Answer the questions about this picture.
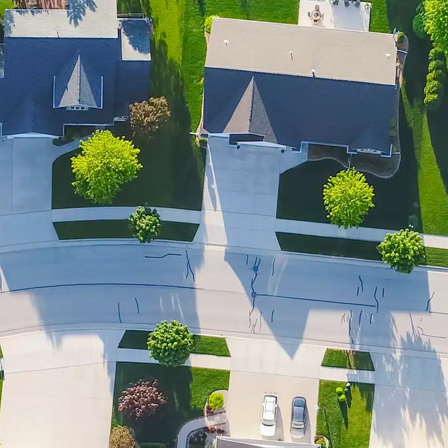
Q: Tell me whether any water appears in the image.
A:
No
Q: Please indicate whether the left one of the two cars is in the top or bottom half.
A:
bottom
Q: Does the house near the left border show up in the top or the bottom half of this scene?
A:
top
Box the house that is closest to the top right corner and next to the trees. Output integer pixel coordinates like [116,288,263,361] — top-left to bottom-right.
[203,17,399,159]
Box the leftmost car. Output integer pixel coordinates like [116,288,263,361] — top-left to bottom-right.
[259,394,280,438]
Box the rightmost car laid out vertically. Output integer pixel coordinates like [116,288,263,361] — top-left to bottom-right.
[289,397,309,439]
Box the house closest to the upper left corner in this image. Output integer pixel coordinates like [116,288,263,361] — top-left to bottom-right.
[0,0,152,139]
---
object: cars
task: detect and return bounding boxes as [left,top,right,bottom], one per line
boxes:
[259,394,280,438]
[289,397,309,439]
